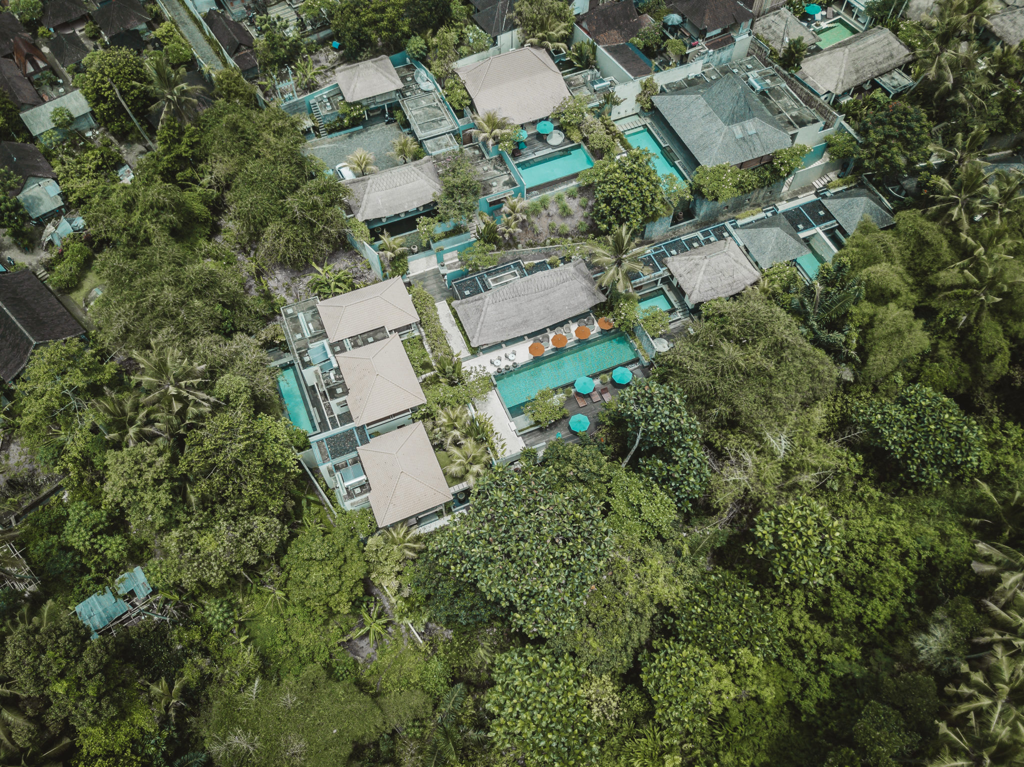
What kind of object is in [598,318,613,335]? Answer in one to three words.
umbrella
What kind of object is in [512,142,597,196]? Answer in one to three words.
swimming pool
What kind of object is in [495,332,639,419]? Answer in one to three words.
swimming pool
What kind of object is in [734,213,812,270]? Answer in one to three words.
building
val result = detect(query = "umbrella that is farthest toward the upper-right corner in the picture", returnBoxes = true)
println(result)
[804,6,821,23]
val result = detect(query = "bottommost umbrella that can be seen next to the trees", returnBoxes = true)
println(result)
[569,415,589,432]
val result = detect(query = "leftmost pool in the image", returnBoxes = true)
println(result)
[274,362,318,442]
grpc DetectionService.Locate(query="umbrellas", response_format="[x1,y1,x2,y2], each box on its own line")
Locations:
[537,123,551,140]
[529,344,544,360]
[663,15,682,34]
[574,378,594,396]
[598,318,613,335]
[804,6,821,23]
[575,328,590,344]
[569,415,589,432]
[612,368,631,387]
[551,336,567,352]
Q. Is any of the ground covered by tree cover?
Yes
